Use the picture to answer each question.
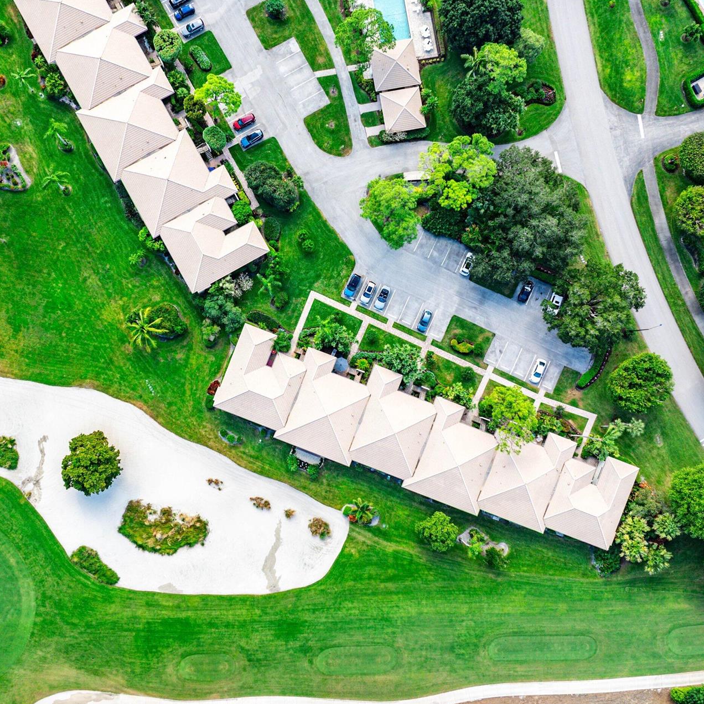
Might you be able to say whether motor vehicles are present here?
Yes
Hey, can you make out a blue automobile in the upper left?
Yes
